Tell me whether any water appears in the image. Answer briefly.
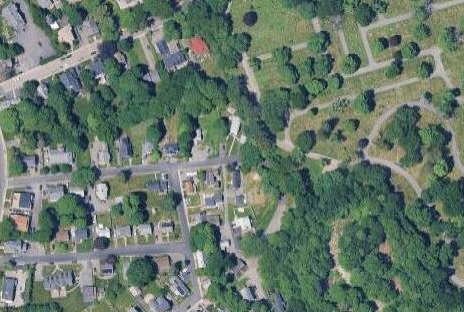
No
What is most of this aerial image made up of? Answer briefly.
trees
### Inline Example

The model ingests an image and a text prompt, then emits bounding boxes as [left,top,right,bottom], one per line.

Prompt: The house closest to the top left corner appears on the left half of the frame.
[3,1,28,32]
